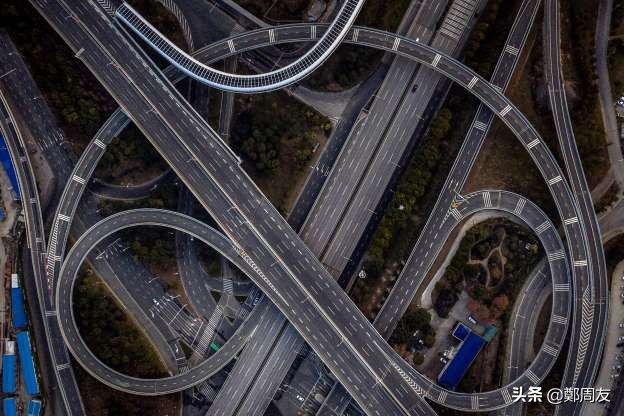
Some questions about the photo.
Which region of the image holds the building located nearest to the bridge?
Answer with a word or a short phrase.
bottom right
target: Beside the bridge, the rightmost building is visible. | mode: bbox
[438,329,486,390]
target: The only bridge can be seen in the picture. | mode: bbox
[29,0,439,416]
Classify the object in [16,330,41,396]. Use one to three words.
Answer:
shed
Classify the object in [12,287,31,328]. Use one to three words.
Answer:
shed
